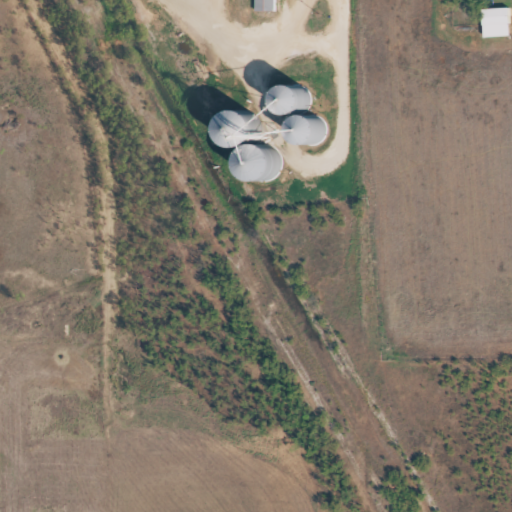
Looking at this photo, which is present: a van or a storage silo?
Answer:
storage silo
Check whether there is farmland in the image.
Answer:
Yes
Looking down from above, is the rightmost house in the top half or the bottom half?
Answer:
top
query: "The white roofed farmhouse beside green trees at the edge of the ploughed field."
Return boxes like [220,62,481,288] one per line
[480,8,512,38]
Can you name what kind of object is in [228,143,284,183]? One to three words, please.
silo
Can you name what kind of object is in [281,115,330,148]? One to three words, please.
silo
